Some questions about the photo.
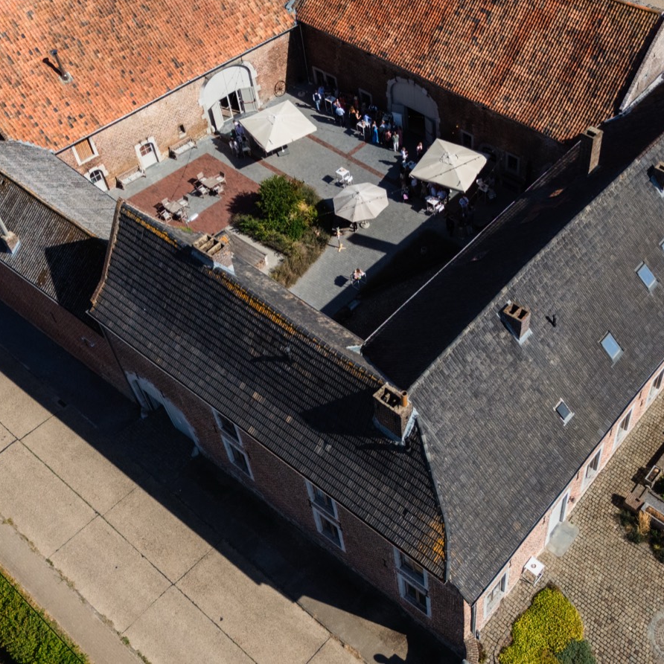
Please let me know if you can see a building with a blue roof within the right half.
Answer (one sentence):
No, no building with a blue roof appears within the right half.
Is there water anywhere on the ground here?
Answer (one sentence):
No, there's no water in this view.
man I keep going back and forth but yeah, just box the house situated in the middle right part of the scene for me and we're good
[365,88,664,647]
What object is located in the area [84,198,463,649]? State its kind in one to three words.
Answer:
house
